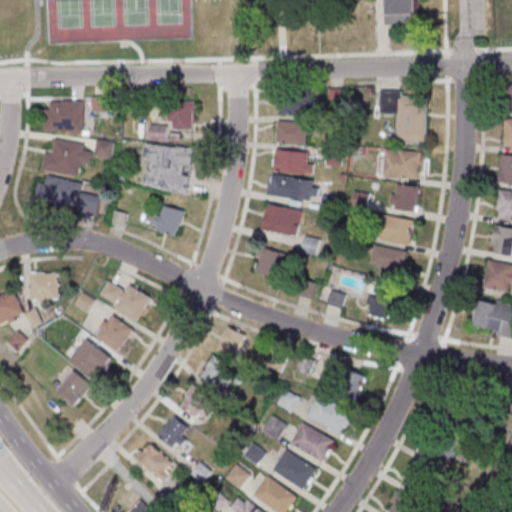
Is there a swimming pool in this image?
Yes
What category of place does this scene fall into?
residential area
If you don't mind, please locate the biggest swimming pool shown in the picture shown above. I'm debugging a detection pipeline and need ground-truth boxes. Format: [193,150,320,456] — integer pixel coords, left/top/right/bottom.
[326,268,366,303]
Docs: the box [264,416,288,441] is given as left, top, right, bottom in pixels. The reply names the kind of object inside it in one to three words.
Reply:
building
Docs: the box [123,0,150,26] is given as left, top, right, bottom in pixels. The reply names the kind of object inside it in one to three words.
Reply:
tennis court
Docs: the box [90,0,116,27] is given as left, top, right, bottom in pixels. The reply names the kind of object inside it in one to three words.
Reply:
tennis court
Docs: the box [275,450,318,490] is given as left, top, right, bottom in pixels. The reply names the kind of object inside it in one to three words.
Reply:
house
